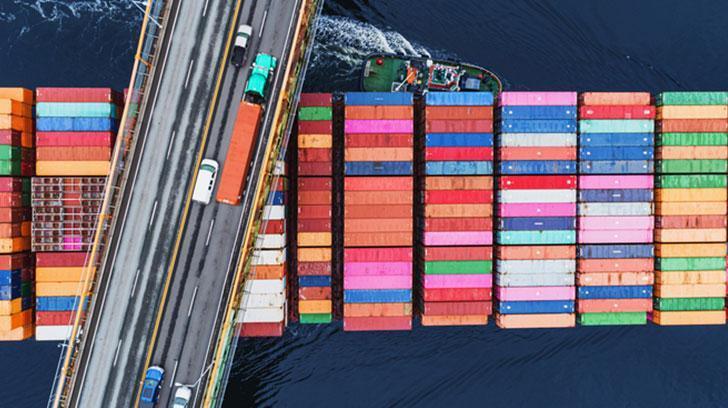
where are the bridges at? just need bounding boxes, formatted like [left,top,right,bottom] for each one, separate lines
[47,0,325,408]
